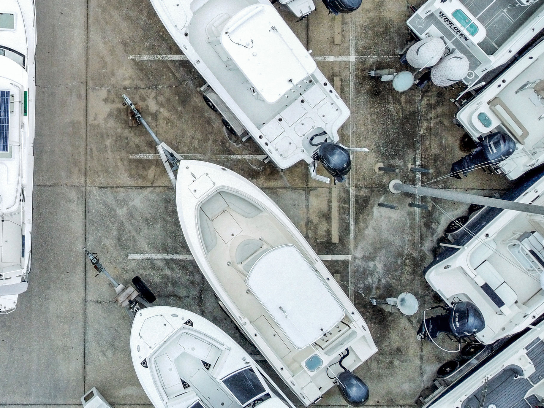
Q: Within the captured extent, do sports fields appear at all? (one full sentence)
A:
No, this view has no sports field in it.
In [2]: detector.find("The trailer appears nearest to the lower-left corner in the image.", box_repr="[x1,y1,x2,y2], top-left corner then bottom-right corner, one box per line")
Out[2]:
[89,241,161,321]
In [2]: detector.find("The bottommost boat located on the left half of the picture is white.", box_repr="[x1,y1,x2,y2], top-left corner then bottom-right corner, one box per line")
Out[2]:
[132,301,297,408]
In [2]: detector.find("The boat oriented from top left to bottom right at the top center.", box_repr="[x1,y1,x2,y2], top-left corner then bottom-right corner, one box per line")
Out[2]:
[157,0,369,182]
